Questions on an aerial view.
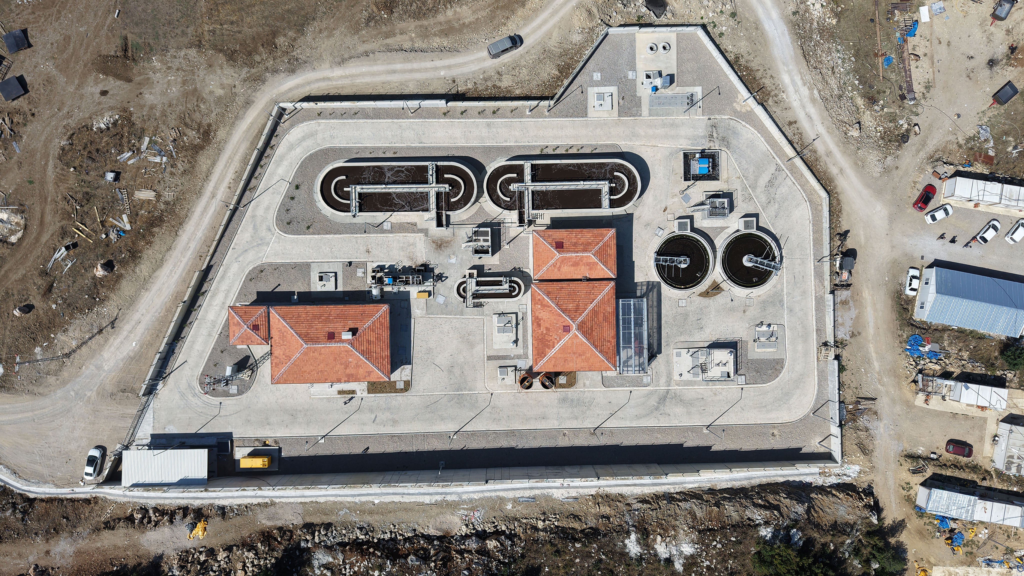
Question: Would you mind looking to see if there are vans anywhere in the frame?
Yes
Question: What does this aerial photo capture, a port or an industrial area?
industrial area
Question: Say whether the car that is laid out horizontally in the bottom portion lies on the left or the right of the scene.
right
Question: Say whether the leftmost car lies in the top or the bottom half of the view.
bottom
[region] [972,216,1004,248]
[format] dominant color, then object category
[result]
white car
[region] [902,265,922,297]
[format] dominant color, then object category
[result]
white car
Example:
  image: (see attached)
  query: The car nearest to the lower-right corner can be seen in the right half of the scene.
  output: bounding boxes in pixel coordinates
[939,438,976,459]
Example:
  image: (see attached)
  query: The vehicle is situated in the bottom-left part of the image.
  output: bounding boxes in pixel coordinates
[81,445,105,483]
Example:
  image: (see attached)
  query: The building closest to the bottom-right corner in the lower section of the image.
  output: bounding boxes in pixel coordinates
[973,496,1023,528]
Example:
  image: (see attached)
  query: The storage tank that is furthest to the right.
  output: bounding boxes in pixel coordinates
[718,218,788,291]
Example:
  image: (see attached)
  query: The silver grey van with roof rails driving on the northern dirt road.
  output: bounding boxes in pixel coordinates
[484,32,523,60]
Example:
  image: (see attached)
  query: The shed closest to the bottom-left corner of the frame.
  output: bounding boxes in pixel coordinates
[122,445,215,485]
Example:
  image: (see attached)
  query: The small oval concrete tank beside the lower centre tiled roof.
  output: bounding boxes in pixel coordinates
[454,270,524,309]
